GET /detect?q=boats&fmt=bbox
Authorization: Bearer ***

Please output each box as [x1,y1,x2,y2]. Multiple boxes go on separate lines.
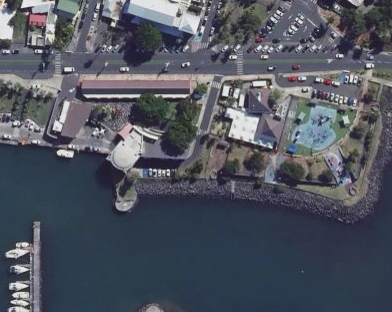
[10,282,30,289]
[10,265,32,273]
[8,306,32,312]
[11,298,32,305]
[13,291,31,298]
[6,247,31,257]
[16,241,31,247]
[57,150,76,158]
